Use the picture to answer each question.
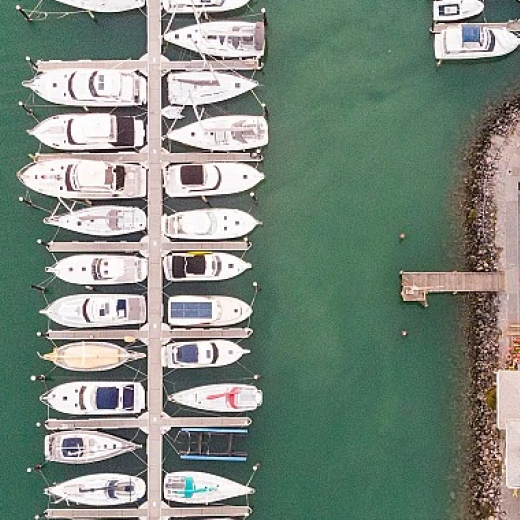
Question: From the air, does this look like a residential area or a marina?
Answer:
marina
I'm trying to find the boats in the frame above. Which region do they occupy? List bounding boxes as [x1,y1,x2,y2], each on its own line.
[20,62,149,116]
[23,107,148,158]
[38,245,148,292]
[432,0,485,23]
[161,332,251,375]
[33,428,147,470]
[161,95,269,152]
[161,200,263,247]
[37,335,147,377]
[161,464,255,509]
[36,288,148,335]
[161,37,261,112]
[161,240,253,289]
[32,470,147,517]
[161,380,263,413]
[37,376,147,426]
[56,0,147,23]
[161,154,266,205]
[161,290,254,332]
[434,26,520,60]
[162,106,183,120]
[26,202,148,243]
[14,155,150,206]
[161,0,266,57]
